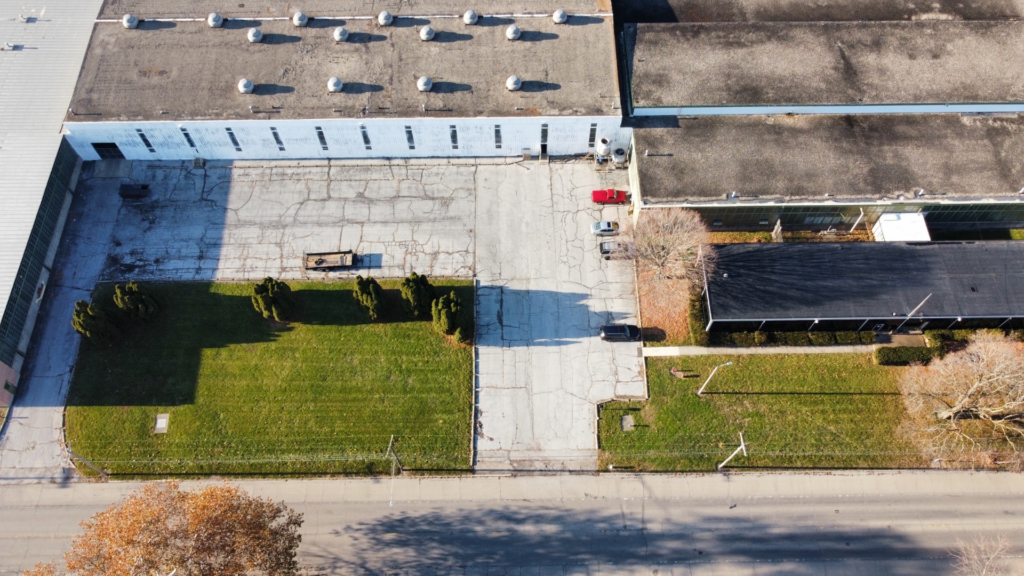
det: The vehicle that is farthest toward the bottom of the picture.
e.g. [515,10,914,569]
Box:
[600,321,640,340]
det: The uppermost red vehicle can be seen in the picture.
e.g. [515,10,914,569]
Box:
[591,188,626,204]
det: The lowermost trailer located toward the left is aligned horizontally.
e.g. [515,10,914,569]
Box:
[299,246,364,270]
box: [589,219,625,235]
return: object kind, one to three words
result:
car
